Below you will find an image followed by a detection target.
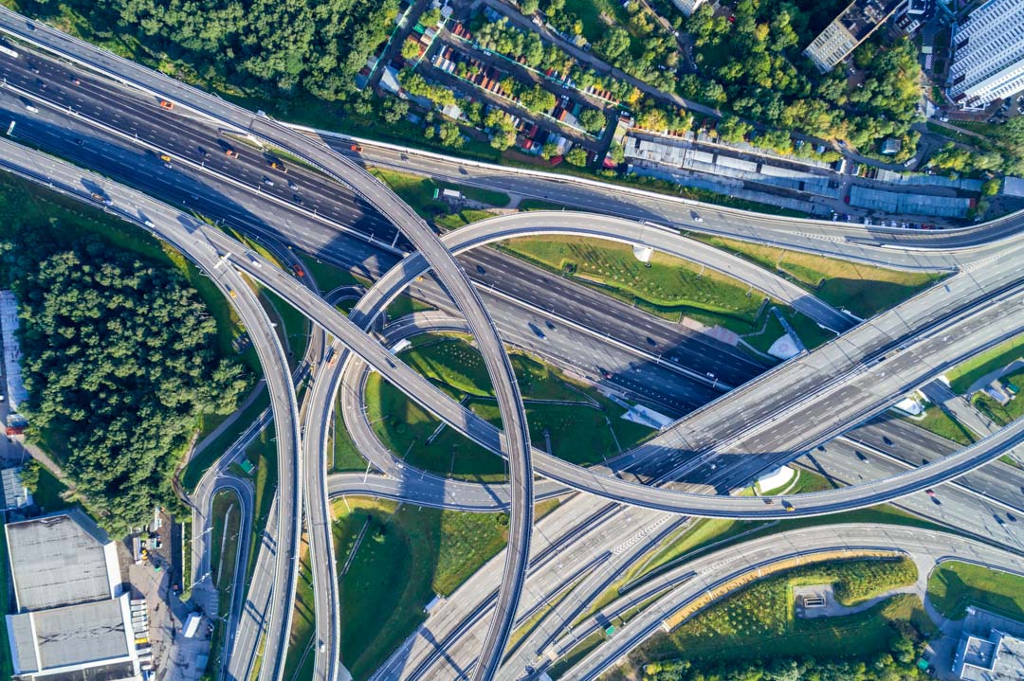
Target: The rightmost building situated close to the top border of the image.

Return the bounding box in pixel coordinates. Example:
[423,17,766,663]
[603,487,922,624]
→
[942,0,1024,109]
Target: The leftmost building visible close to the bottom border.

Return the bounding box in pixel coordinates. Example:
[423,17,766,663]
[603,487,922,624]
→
[0,511,143,681]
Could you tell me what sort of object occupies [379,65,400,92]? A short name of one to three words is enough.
shed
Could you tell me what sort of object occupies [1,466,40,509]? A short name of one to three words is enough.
building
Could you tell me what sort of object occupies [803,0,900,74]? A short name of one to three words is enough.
building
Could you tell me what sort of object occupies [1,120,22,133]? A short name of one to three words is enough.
vehicle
